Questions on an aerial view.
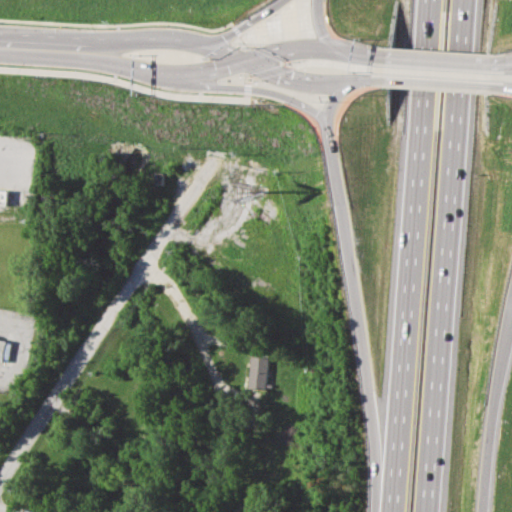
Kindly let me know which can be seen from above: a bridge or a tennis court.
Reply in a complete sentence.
Visible in the photo is a bridge.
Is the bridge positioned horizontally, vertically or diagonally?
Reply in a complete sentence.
I'd say the bridge is aligned horizontally in the picture.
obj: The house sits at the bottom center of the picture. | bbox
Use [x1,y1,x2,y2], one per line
[246,356,272,391]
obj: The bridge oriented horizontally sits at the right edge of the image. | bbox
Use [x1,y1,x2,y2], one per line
[385,48,504,96]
